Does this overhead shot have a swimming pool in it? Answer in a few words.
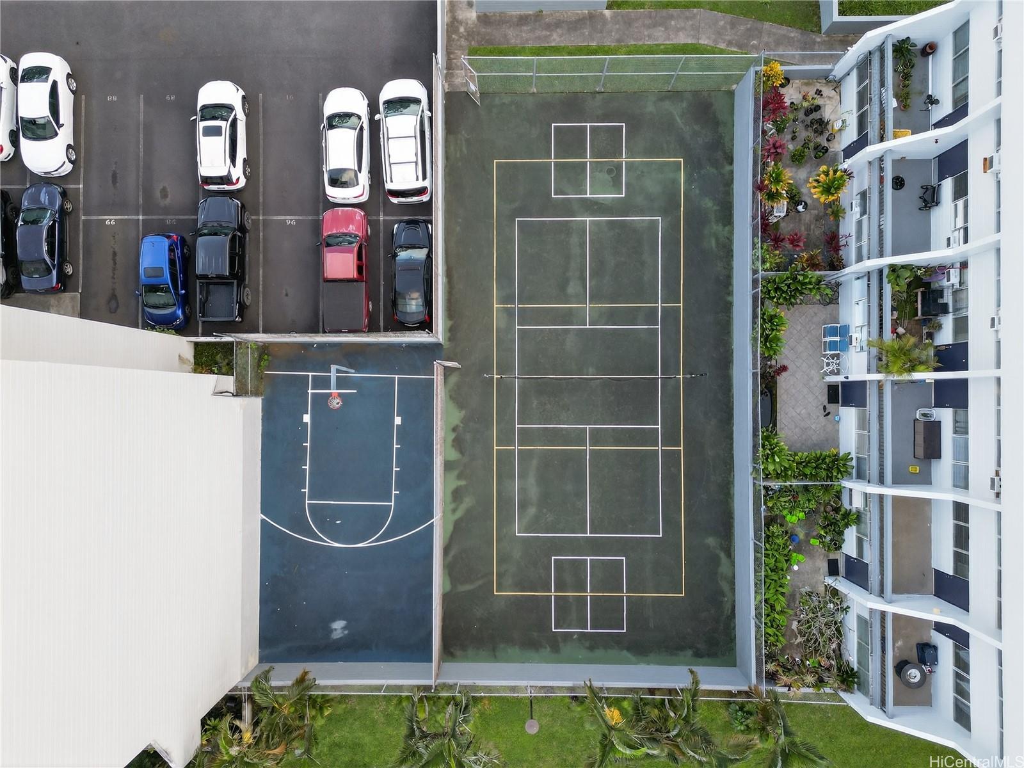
No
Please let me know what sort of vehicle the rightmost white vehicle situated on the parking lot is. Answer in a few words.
car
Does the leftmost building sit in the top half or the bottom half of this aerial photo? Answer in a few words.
bottom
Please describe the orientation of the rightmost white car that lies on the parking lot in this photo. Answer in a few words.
up and down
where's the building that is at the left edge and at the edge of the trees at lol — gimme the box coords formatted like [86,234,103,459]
[0,309,259,768]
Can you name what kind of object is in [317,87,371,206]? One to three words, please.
car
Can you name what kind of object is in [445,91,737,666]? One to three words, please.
sports court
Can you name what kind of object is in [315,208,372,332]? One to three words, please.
truck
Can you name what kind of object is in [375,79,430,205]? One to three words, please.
car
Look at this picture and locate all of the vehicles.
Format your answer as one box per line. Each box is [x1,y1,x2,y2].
[189,197,253,322]
[190,81,250,193]
[0,192,21,302]
[315,208,372,332]
[383,219,434,328]
[12,53,78,177]
[317,87,371,206]
[375,79,430,205]
[12,183,74,295]
[135,233,192,332]
[0,55,21,165]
